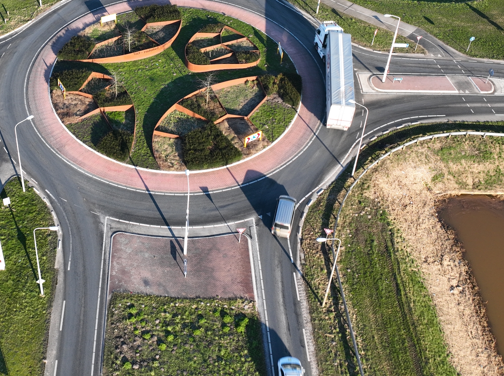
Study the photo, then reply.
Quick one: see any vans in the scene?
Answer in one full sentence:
Yes, a van can be made out from above.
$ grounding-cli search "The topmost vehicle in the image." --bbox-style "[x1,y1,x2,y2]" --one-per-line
[313,17,342,63]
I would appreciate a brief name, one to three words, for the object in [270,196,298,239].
van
